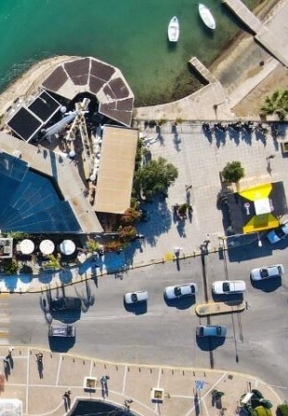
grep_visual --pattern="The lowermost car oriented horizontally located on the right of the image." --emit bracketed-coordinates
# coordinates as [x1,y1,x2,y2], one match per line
[194,324,225,337]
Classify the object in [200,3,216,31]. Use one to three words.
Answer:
boat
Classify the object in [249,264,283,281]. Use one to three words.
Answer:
car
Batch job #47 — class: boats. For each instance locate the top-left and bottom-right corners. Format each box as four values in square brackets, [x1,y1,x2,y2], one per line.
[168,15,179,44]
[200,3,216,31]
